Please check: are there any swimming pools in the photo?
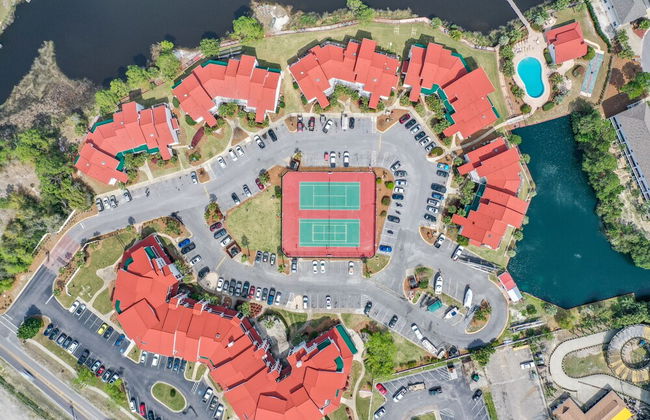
Yes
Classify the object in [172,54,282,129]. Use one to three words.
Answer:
building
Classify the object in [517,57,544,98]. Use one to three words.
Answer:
swimming pool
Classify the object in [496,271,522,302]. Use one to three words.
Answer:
shed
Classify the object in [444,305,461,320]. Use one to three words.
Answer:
boat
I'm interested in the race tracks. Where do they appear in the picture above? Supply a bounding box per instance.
[550,324,650,404]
